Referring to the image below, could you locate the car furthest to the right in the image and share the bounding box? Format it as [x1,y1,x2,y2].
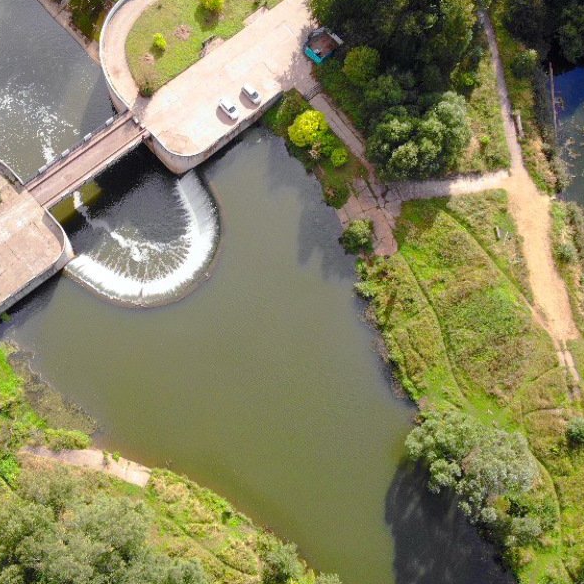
[238,83,263,106]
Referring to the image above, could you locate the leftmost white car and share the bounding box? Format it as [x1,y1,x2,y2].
[215,99,239,121]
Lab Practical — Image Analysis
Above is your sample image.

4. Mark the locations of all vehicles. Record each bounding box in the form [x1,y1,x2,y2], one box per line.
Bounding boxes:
[215,99,239,121]
[238,83,263,106]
